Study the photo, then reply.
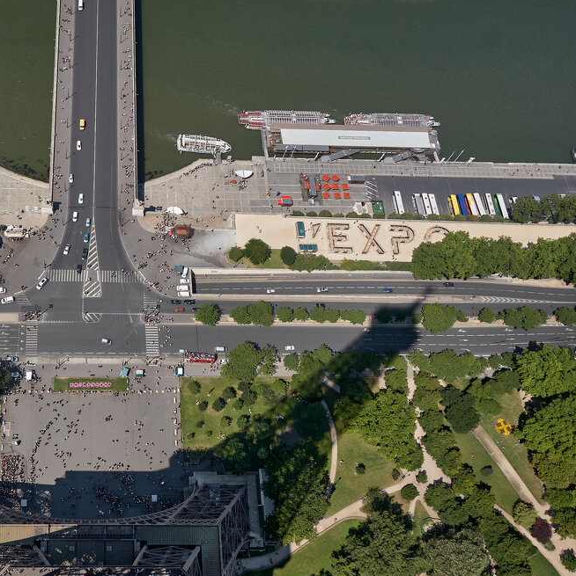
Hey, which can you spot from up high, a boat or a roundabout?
boat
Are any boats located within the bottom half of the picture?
No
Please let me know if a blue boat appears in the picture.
No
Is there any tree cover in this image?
Yes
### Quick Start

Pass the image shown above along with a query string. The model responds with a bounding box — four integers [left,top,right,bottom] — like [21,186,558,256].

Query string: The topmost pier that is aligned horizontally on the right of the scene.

[262,122,442,162]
